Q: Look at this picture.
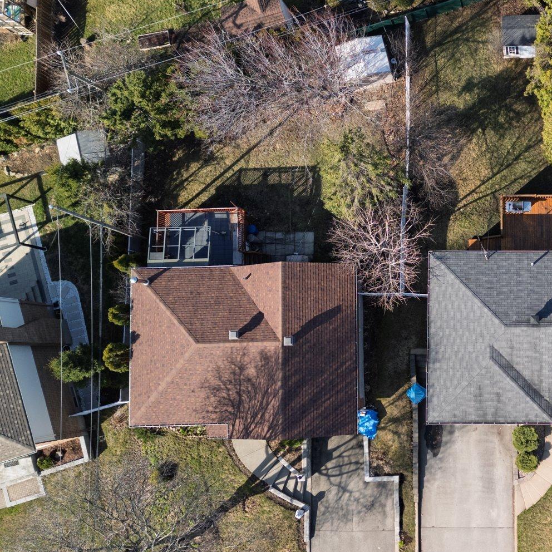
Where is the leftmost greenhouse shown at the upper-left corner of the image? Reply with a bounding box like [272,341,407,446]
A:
[0,0,34,35]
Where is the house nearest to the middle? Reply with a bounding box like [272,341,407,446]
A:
[126,262,365,441]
